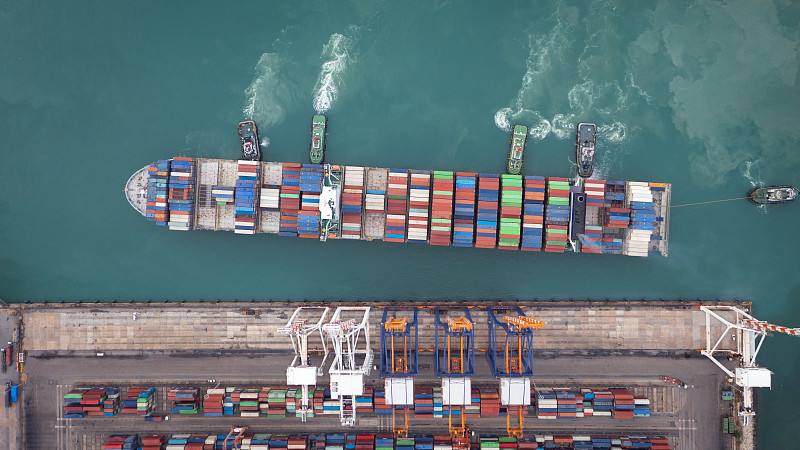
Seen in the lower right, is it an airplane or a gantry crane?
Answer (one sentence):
You can see a gantry crane in the lower right.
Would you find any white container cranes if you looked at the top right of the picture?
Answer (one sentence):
No, I see no white container crane at the top right of the picture.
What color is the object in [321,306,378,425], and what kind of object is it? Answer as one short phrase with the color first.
white container crane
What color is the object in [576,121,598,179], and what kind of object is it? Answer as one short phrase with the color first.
gray boat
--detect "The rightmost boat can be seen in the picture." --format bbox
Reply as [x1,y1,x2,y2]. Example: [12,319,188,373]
[748,185,800,205]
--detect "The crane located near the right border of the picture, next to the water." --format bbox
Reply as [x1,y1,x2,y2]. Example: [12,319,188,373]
[691,306,800,426]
